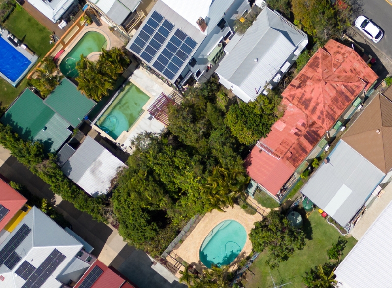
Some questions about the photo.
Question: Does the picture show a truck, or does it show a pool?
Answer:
pool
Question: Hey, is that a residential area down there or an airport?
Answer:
residential area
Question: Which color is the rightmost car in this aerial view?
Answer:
white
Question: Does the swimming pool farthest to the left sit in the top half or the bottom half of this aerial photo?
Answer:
top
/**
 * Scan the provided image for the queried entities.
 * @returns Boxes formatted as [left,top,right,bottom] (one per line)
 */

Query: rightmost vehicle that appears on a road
[353,16,384,43]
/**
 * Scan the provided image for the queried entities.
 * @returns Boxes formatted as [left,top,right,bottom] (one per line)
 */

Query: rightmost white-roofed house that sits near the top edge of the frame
[214,6,307,104]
